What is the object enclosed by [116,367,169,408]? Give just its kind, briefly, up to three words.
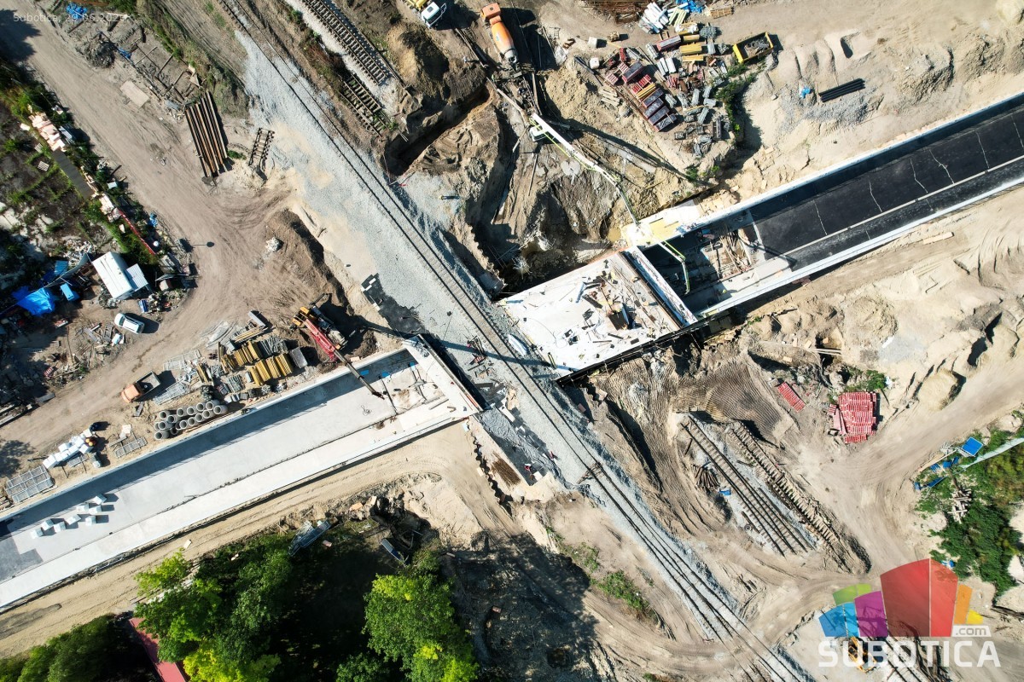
truck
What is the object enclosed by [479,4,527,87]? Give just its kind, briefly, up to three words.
truck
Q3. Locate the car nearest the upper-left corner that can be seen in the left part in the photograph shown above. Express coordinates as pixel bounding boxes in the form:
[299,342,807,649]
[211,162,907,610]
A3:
[114,311,150,337]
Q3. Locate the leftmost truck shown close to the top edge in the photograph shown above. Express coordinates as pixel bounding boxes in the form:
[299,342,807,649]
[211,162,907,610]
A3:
[389,0,449,38]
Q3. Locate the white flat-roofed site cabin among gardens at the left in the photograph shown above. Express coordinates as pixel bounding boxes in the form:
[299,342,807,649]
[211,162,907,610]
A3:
[92,251,142,300]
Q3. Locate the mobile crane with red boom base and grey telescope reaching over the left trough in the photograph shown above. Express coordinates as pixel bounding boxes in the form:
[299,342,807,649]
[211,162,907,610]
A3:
[283,284,391,404]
